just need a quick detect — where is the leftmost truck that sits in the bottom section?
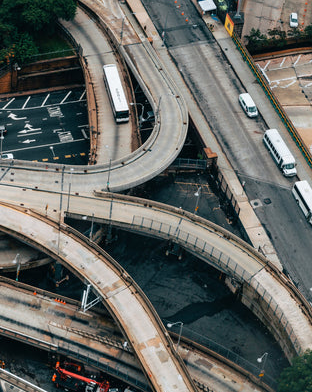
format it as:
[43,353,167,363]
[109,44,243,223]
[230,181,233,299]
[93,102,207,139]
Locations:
[48,360,108,392]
